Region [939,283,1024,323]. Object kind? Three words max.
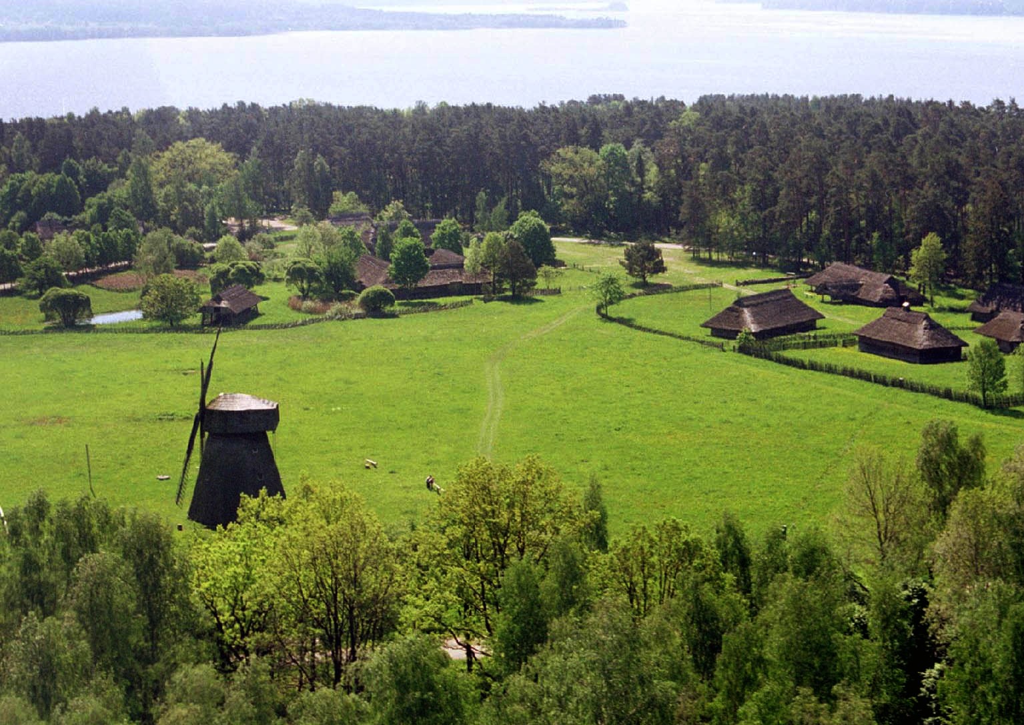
house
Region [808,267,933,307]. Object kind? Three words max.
barn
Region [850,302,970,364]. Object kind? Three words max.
house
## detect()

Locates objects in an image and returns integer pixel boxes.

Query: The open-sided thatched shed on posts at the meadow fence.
[198,282,264,326]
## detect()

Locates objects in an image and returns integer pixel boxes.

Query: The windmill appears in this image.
[171,320,287,529]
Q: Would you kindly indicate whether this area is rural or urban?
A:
rural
